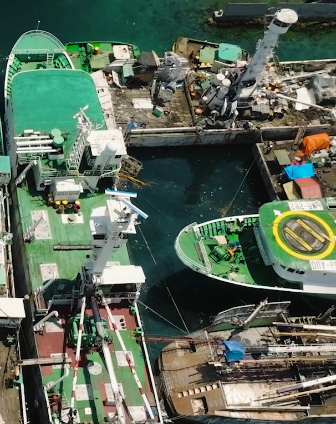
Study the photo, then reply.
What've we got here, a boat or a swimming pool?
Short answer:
boat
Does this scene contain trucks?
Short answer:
No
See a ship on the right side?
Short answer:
Yes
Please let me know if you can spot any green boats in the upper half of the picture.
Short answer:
Yes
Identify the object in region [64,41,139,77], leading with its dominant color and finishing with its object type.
green boat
